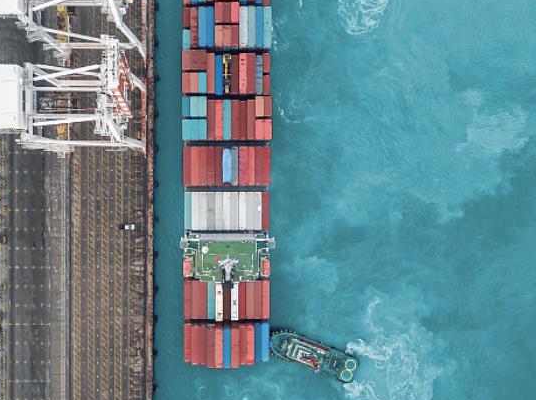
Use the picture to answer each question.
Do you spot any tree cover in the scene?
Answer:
No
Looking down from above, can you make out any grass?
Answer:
No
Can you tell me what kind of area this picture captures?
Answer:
port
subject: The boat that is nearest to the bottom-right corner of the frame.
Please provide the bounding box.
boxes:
[270,333,363,389]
